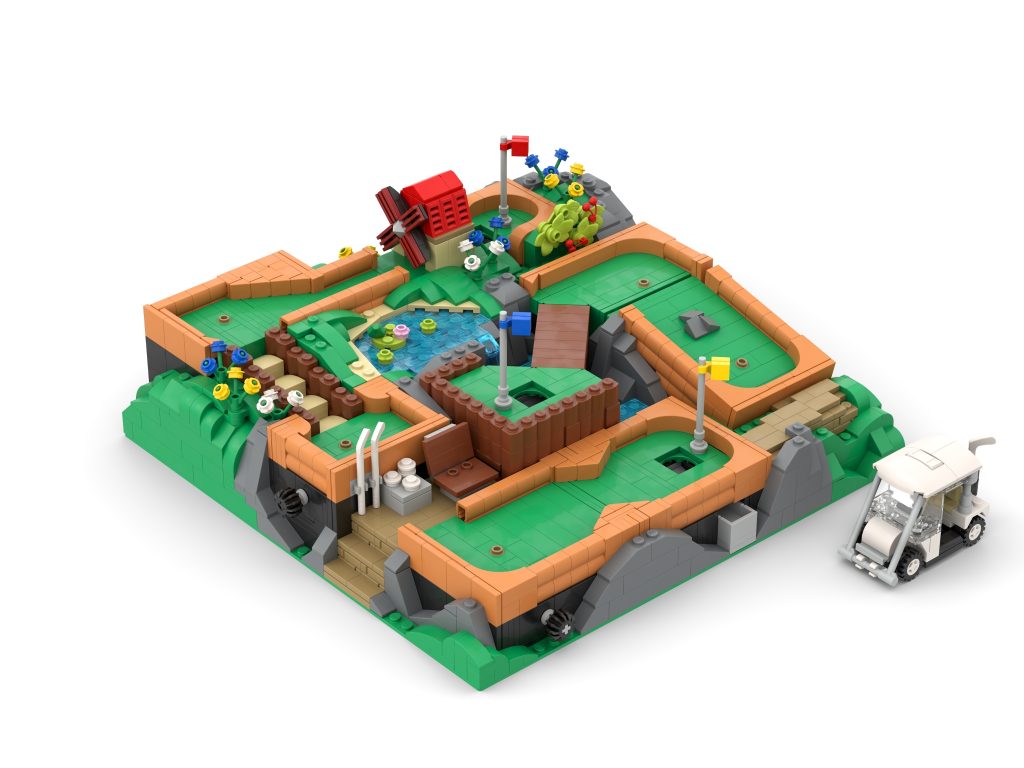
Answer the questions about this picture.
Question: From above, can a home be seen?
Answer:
No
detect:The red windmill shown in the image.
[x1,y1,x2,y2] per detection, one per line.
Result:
[376,170,475,270]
